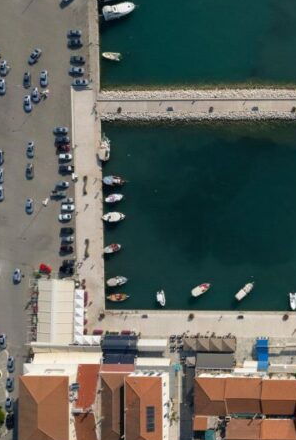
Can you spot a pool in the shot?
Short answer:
No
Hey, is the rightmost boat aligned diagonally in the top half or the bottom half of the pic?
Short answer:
bottom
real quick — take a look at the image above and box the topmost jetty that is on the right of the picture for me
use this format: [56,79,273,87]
[95,84,296,125]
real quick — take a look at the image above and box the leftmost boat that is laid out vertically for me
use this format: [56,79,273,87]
[98,134,111,163]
